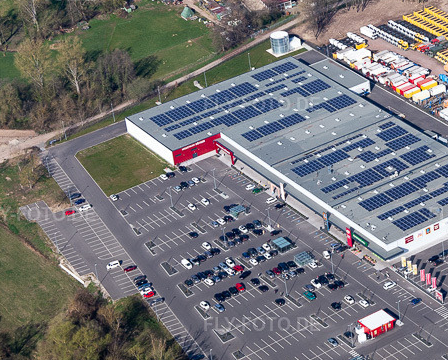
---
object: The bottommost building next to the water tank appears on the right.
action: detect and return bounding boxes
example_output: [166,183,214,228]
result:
[125,57,448,263]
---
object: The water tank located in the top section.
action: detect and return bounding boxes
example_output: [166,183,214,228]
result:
[262,33,303,62]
